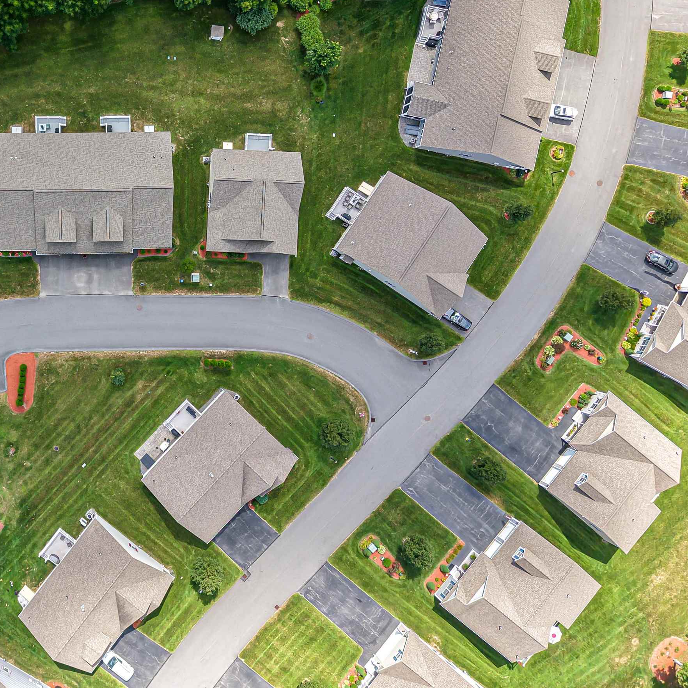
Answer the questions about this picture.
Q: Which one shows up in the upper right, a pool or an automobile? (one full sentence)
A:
You can see an automobile in the upper right.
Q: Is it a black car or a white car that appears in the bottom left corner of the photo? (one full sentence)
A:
There is a white car in the bottom left corner of the photo.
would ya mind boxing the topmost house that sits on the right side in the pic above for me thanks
[400,0,570,171]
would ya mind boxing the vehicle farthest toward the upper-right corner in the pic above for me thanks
[550,103,580,122]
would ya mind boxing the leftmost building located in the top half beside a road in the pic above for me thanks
[0,116,173,256]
